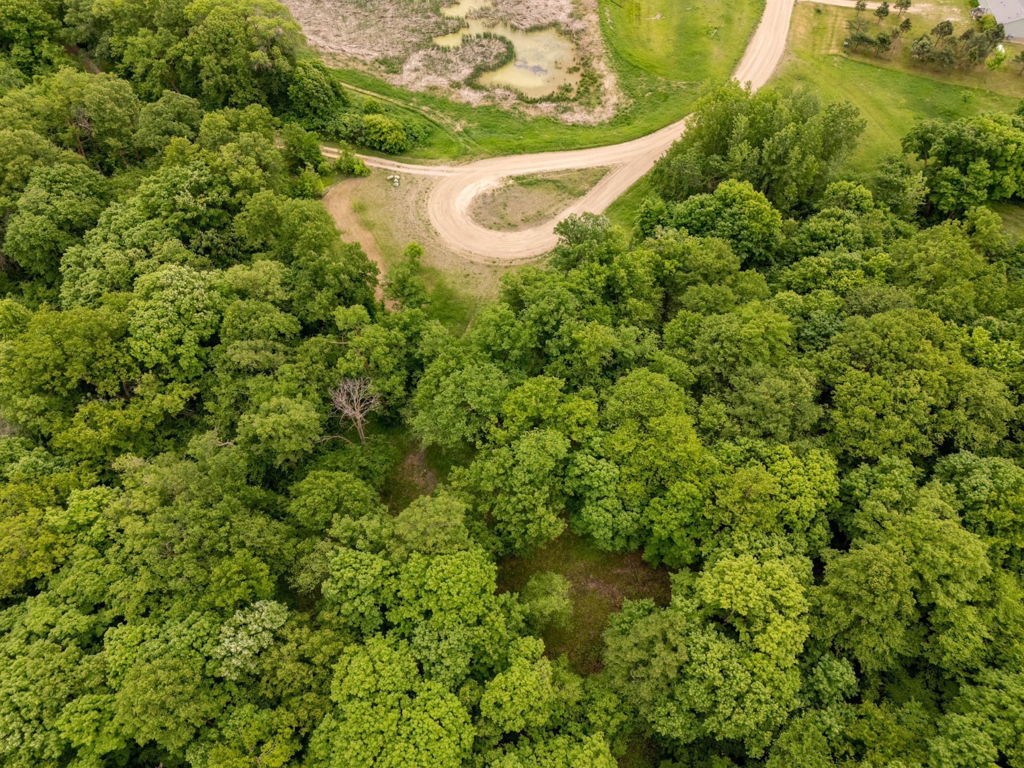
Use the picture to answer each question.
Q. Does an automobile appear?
No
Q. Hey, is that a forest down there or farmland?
forest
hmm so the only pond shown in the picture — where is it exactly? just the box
[433,0,585,99]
